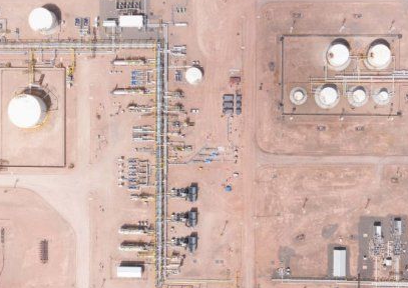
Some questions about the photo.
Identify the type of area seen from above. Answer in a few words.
industrial area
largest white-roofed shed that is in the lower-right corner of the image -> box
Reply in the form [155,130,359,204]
[333,248,346,276]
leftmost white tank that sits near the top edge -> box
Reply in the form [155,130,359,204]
[26,6,59,35]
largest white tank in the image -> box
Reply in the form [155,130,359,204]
[9,87,54,129]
